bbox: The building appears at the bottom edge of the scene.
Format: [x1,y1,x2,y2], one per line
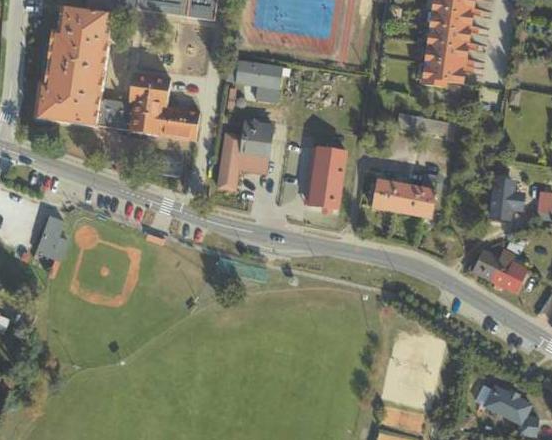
[477,383,539,437]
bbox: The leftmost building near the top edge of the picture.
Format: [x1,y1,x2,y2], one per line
[36,6,109,128]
